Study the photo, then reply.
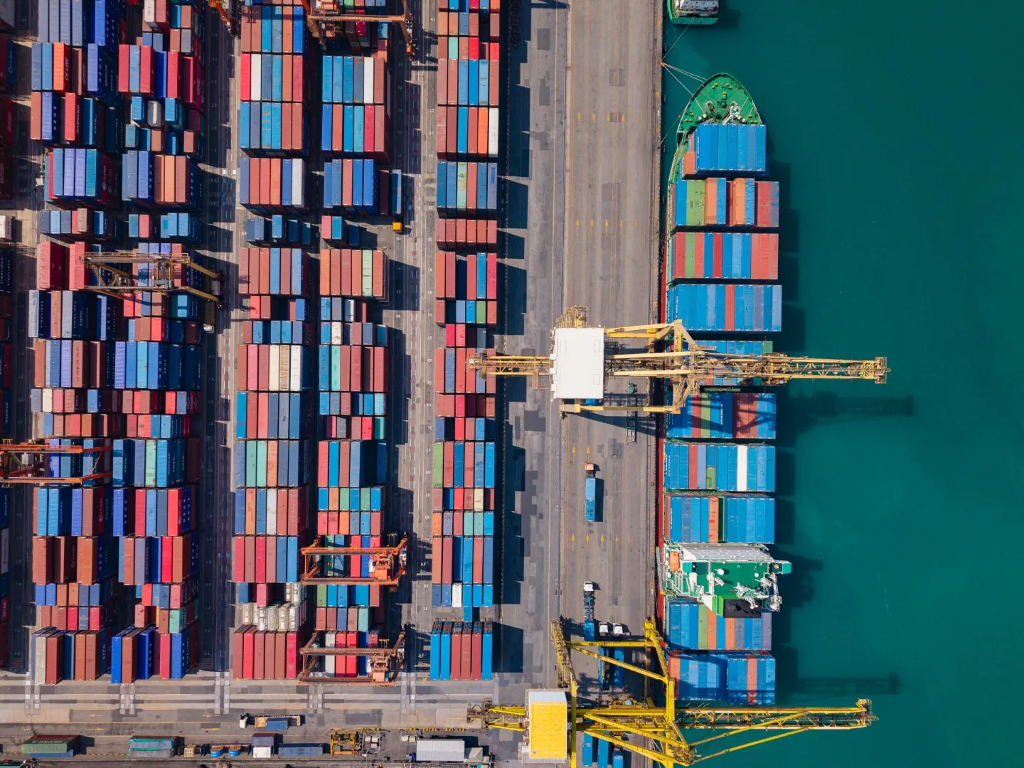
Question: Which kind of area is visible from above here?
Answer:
port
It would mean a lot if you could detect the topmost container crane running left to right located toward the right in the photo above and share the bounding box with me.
[472,309,897,419]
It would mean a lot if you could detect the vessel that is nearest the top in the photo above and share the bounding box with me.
[668,0,722,22]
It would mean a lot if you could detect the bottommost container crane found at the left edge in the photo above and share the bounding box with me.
[0,433,127,486]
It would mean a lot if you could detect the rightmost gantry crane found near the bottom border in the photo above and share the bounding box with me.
[467,614,884,768]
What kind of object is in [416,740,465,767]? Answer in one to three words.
shed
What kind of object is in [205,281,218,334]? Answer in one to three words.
vehicle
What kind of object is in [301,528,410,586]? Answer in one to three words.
container crane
